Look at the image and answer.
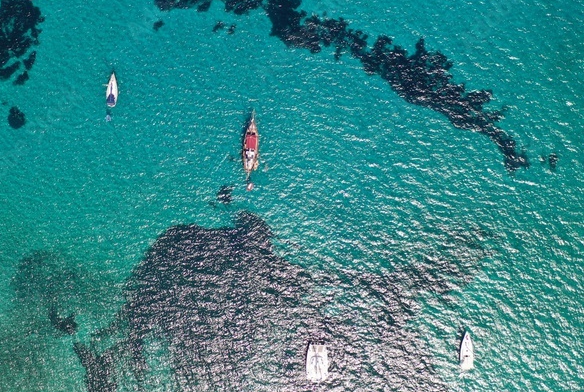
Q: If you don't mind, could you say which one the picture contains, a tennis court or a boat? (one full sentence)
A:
The image shows a boat.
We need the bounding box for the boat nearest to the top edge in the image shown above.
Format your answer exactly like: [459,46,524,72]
[105,73,118,108]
